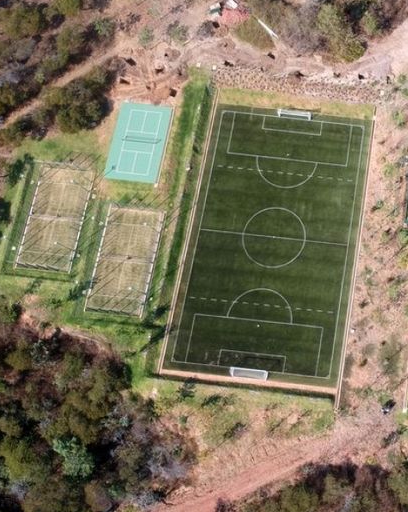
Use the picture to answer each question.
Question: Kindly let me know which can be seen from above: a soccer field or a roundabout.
soccer field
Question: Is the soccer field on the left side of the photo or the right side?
right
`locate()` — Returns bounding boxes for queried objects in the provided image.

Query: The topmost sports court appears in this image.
[106,102,174,185]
